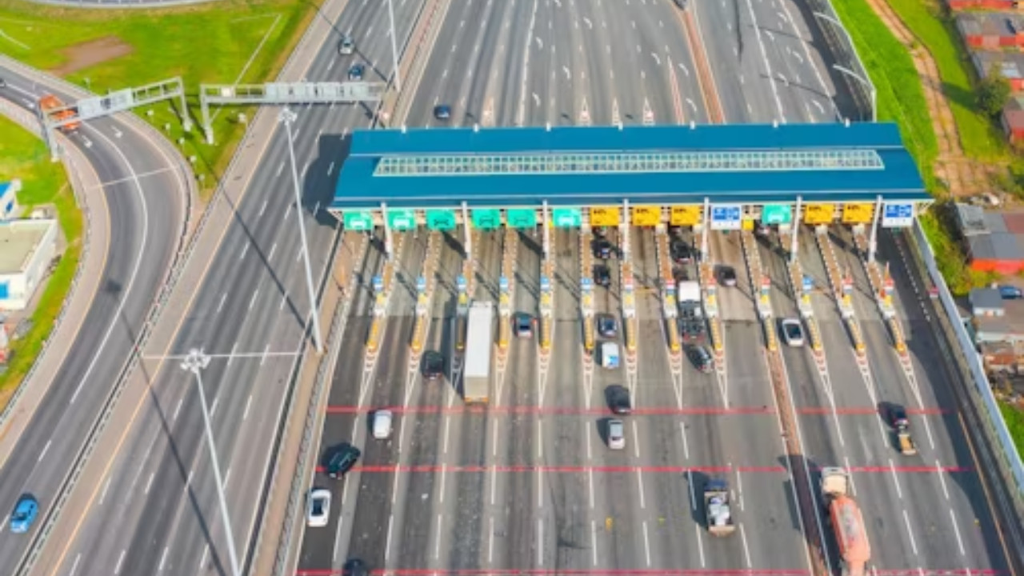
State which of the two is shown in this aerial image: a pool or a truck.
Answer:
truck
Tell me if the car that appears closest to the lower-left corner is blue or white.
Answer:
blue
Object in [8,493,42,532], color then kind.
blue car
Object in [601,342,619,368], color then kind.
white vehicle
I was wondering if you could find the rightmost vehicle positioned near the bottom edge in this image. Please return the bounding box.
[824,455,874,576]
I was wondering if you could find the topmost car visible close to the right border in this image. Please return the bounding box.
[1001,282,1024,303]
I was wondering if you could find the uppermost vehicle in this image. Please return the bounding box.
[338,36,353,53]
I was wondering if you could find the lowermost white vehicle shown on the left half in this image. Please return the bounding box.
[307,491,331,528]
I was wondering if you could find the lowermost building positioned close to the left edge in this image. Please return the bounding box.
[0,214,65,307]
